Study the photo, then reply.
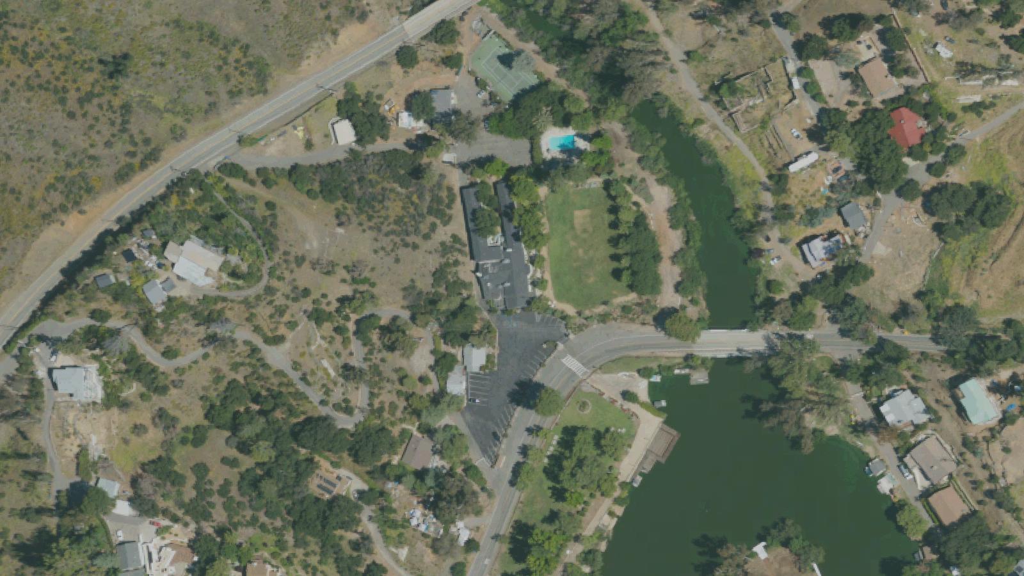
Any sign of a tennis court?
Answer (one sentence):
Yes, the photo shows a tennis court.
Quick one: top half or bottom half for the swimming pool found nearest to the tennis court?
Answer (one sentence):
Seen from above, the swimming pool found nearest to the tennis court lies in the top half of the view.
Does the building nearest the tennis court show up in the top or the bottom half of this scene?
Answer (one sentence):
It is in the top half that the building nearest the tennis court appears.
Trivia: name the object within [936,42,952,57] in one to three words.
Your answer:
vehicle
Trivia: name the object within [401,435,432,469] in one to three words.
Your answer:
house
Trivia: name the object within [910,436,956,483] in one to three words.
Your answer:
house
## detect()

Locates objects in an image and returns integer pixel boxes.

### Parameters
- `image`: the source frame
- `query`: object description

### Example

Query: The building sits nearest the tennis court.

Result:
[432,90,456,111]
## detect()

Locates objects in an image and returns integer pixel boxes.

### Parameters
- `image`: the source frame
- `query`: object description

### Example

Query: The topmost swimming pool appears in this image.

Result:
[542,126,591,159]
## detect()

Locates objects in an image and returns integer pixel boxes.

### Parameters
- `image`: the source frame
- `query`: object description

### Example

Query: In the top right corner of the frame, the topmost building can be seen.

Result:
[859,59,898,97]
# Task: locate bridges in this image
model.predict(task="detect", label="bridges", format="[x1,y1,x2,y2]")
[690,330,766,357]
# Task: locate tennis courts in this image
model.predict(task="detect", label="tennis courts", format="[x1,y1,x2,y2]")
[472,35,538,99]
